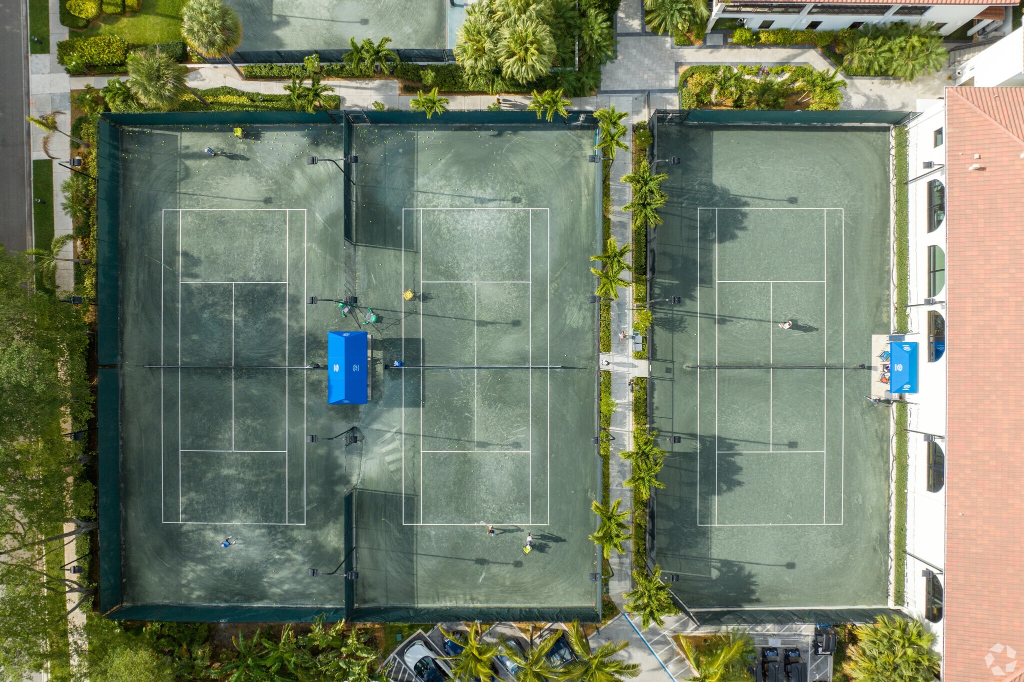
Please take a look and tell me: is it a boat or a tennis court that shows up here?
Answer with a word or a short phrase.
tennis court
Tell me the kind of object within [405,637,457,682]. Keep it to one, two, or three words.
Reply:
car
